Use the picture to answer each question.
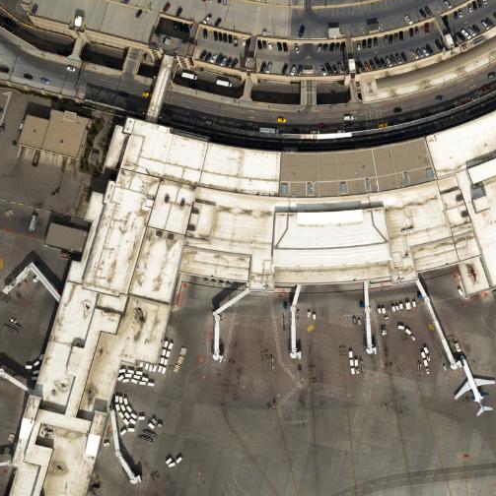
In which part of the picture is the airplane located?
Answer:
bottom right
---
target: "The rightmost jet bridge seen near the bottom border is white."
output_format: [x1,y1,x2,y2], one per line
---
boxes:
[109,411,143,486]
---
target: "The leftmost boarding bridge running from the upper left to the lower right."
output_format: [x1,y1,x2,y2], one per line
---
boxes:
[0,370,30,393]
